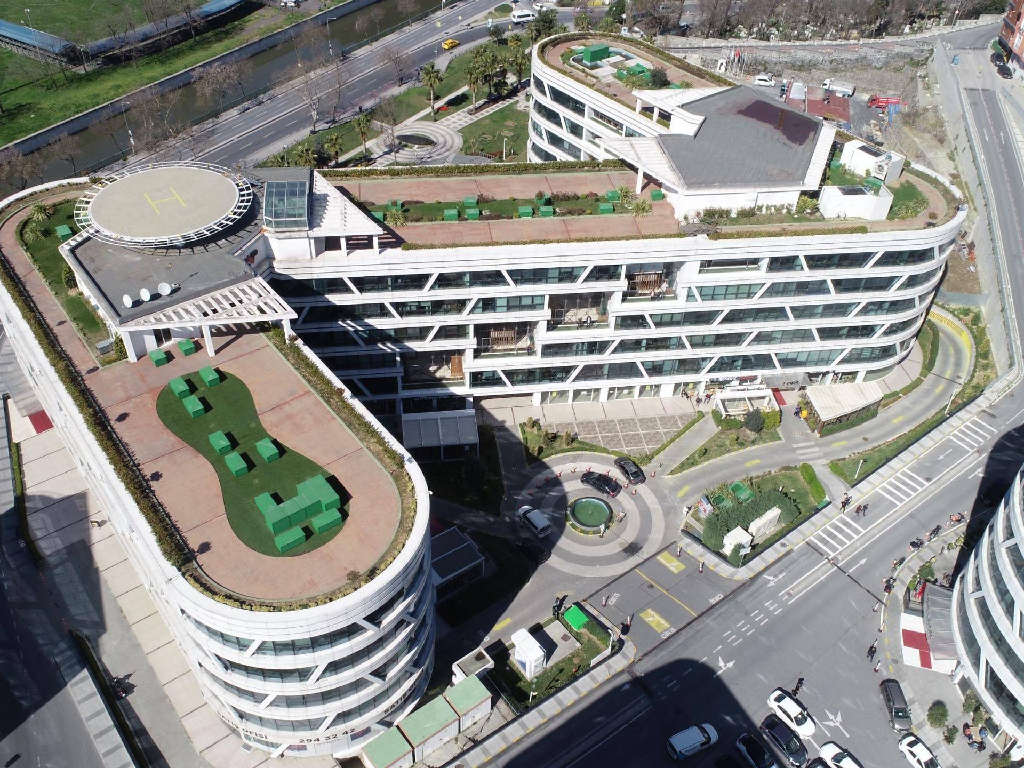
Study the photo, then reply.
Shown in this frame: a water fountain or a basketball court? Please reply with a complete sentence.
It is a water fountain that can be seen here.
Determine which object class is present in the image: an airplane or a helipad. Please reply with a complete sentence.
There is a helipad in the scene.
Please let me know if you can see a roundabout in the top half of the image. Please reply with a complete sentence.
No, I can find no roundabout in the top half of the image.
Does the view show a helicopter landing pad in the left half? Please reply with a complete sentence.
Yes, a helicopter landing pad is visible in the left half.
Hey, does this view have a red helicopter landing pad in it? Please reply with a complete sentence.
No, this view has no red helicopter landing pad in it.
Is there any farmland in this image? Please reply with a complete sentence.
No, there's no farmland in this view.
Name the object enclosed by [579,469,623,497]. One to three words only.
car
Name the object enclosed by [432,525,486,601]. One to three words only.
building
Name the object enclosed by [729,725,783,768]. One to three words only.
car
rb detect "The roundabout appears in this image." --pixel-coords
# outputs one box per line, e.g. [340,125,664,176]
[493,453,687,592]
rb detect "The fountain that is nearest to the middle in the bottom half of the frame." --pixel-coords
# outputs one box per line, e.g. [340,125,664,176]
[558,490,623,539]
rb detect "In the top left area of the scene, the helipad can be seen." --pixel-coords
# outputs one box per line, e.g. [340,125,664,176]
[75,160,262,246]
